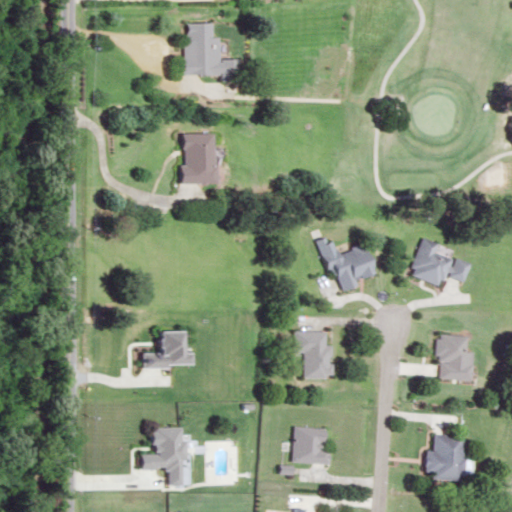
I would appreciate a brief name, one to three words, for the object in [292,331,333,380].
house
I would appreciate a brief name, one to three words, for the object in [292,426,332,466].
house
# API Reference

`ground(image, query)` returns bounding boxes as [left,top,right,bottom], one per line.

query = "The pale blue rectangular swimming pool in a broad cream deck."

[205,440,238,486]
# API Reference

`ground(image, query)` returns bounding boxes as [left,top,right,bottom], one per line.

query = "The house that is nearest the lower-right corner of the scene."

[424,434,476,481]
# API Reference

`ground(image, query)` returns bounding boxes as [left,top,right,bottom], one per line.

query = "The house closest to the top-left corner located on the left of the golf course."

[184,24,240,76]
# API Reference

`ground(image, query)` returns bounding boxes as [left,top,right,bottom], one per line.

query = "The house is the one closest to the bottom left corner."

[141,428,206,486]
